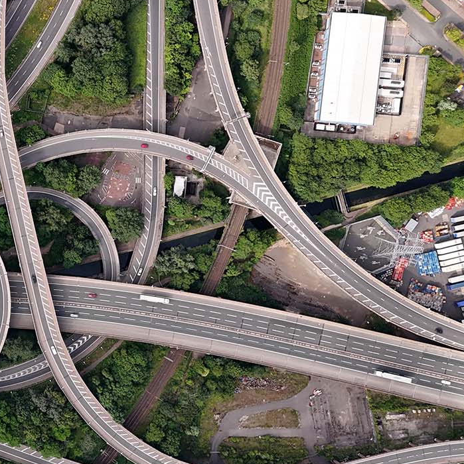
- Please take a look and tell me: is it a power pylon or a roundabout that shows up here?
power pylon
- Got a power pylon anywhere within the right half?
Yes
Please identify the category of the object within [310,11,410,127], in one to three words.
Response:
building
